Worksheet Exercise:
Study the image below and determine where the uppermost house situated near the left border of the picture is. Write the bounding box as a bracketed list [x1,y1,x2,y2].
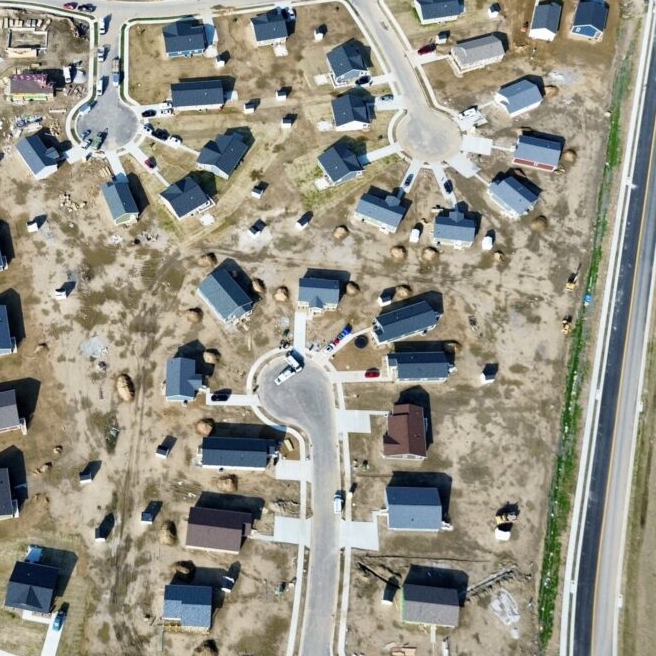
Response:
[8,68,52,99]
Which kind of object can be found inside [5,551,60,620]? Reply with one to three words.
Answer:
house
